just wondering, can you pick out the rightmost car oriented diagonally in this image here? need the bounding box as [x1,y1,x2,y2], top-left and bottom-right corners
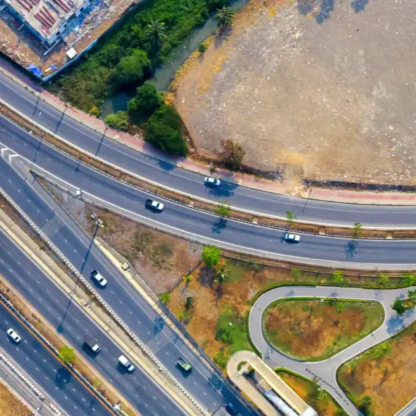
[223,401,239,415]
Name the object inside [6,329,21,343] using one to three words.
car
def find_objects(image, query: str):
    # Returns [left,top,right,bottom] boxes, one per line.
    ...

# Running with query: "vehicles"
[223,401,239,415]
[117,356,134,371]
[174,355,193,373]
[204,177,221,186]
[83,339,99,356]
[145,200,163,209]
[284,234,301,241]
[90,269,106,286]
[6,329,21,343]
